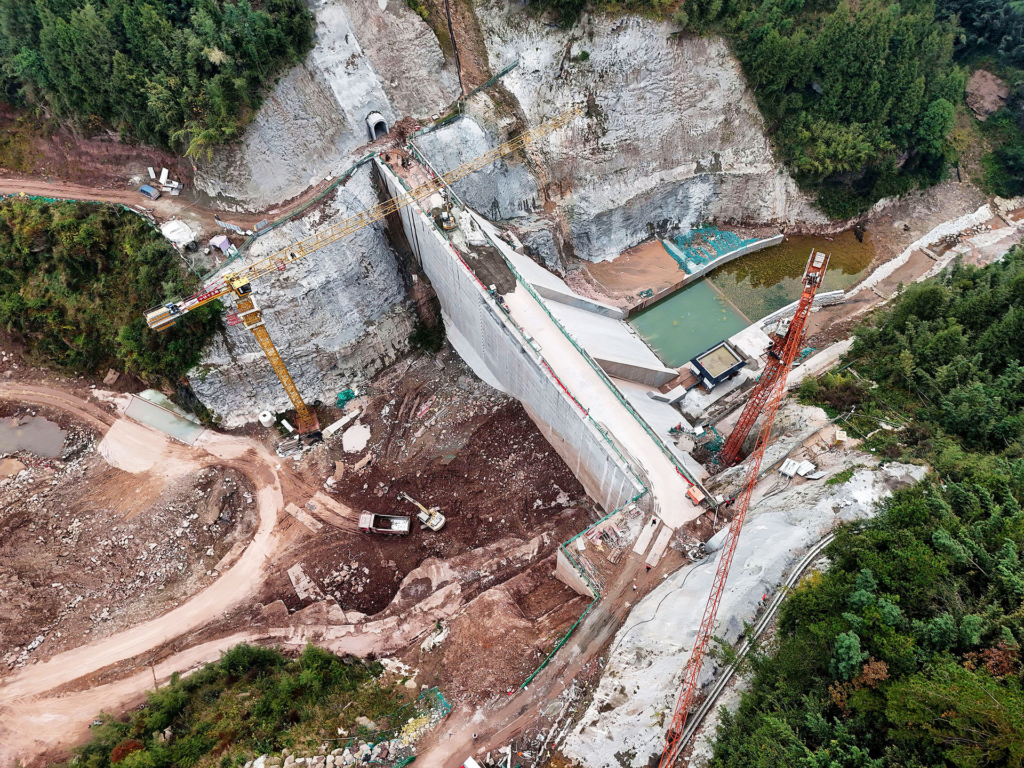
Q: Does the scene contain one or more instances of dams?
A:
Yes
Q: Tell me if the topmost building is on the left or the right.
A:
right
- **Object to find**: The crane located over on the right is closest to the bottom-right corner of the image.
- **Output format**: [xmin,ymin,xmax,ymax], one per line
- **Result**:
[657,247,833,768]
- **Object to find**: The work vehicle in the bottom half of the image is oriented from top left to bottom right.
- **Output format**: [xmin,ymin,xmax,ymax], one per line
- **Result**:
[403,490,446,528]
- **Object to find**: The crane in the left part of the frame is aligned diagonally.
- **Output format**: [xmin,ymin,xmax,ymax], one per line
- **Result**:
[131,104,587,436]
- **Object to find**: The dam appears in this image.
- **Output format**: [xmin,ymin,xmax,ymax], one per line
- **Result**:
[378,145,720,521]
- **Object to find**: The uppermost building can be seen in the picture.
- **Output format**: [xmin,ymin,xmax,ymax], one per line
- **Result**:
[689,346,744,394]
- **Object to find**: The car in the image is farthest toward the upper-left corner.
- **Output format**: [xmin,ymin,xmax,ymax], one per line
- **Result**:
[136,184,161,197]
